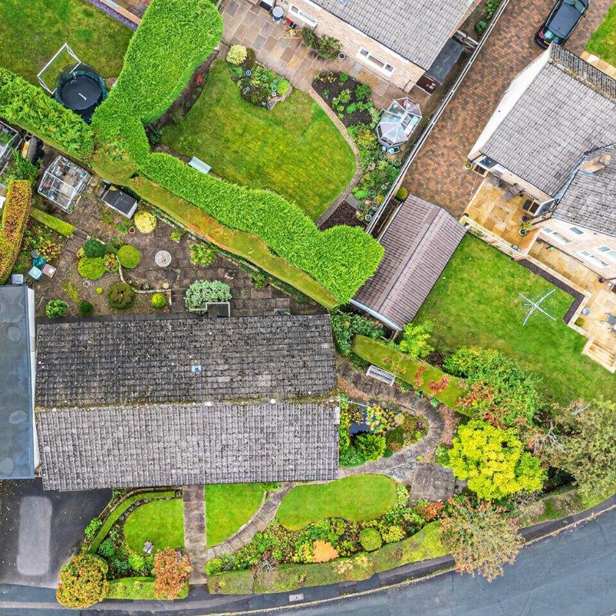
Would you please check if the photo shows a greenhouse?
Yes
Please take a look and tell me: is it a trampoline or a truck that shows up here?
trampoline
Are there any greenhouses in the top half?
Yes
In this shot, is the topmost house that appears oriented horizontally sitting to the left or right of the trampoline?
on its right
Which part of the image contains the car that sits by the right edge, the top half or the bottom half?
top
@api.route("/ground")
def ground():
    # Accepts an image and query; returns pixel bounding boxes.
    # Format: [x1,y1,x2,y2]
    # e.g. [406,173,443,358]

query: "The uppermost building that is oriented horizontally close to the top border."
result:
[254,0,481,91]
